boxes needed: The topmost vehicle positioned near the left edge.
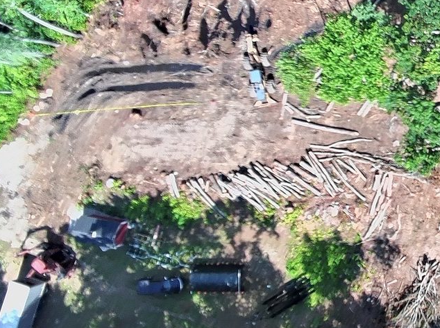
[11,237,80,283]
